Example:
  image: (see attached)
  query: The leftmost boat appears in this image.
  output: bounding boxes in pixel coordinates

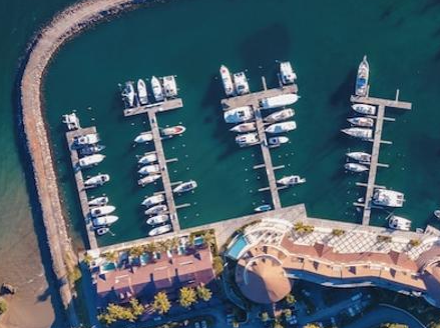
[64,112,78,130]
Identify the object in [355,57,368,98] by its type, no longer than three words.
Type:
boat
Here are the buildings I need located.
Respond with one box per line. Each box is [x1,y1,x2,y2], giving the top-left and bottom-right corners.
[231,239,440,305]
[97,244,222,309]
